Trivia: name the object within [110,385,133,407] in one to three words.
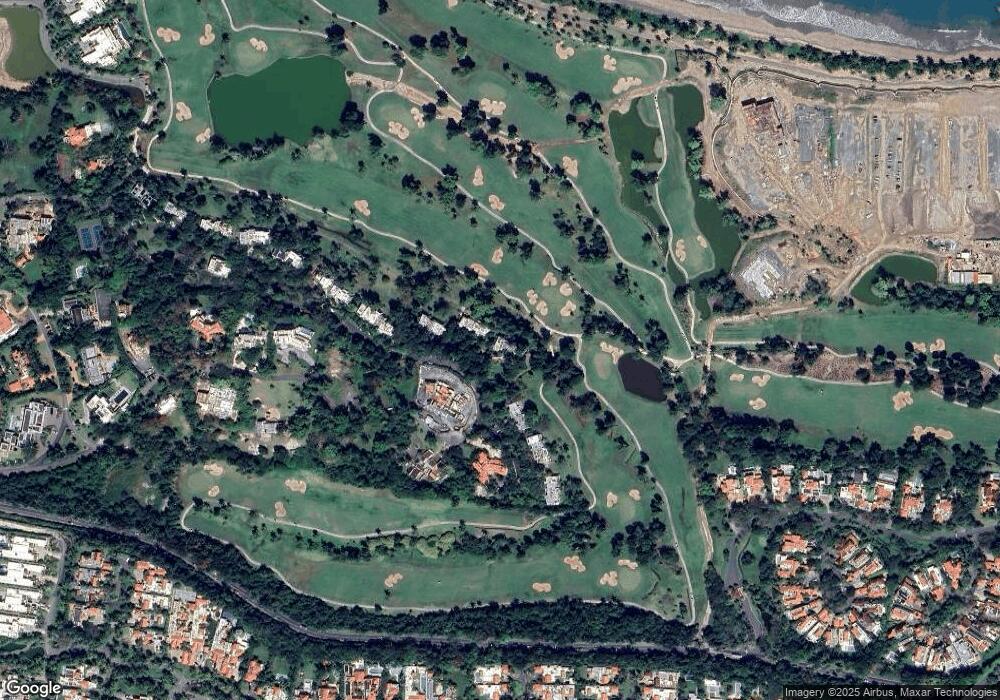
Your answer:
swimming pool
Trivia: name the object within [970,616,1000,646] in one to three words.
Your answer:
house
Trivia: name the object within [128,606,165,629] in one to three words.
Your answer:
house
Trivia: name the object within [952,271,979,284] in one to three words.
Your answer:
shed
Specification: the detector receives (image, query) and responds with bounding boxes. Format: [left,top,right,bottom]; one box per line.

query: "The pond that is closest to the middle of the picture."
[618,351,669,401]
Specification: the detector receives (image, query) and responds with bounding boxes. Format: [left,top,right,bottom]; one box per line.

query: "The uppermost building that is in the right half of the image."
[742,100,785,145]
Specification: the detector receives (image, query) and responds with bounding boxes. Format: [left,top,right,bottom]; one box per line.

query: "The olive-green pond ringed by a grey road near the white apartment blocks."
[0,5,58,82]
